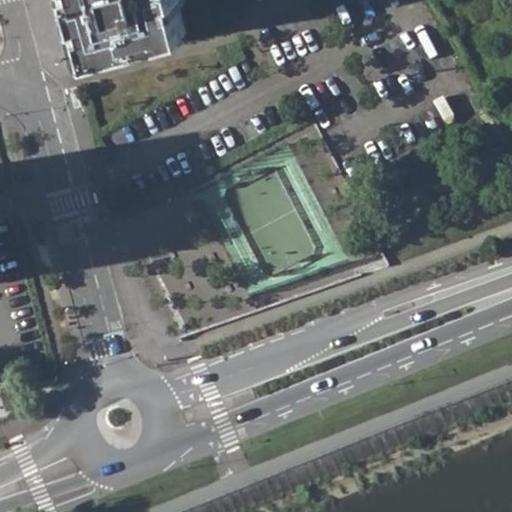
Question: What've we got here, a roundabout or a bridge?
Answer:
roundabout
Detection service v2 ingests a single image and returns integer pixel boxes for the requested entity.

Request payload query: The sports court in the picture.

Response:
[211,150,350,297]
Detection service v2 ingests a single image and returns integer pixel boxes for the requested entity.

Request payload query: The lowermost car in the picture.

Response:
[98,462,120,475]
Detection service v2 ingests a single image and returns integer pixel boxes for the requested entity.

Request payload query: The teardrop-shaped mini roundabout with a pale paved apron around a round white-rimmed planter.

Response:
[93,387,147,453]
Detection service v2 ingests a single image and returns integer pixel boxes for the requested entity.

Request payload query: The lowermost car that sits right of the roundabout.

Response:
[237,408,260,422]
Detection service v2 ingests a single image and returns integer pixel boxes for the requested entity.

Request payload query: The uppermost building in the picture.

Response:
[53,0,186,78]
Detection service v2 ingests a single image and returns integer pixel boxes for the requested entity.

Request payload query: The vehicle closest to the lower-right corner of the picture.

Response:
[412,338,434,352]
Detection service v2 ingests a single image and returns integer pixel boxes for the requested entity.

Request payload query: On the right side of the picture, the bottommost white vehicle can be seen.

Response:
[311,377,332,391]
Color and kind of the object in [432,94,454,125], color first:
white truck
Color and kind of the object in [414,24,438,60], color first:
white camper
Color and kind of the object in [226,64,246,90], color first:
white vehicle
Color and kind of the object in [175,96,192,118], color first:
red car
